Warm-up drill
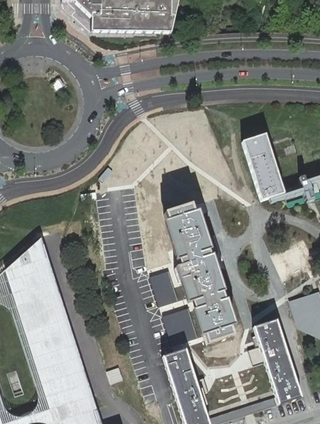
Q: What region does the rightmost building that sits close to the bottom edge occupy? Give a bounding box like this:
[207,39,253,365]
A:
[251,318,302,404]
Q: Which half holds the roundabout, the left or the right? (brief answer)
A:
left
